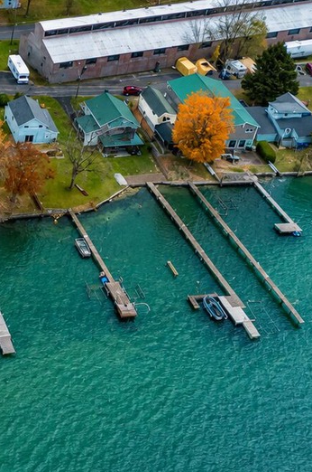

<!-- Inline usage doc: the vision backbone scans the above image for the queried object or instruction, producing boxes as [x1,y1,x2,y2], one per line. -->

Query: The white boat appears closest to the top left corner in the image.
[113,172,126,186]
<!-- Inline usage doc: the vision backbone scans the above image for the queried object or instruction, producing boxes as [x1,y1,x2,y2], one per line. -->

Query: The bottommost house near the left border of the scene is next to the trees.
[9,96,59,142]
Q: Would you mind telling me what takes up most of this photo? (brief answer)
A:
water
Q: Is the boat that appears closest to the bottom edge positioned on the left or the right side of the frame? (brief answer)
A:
right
